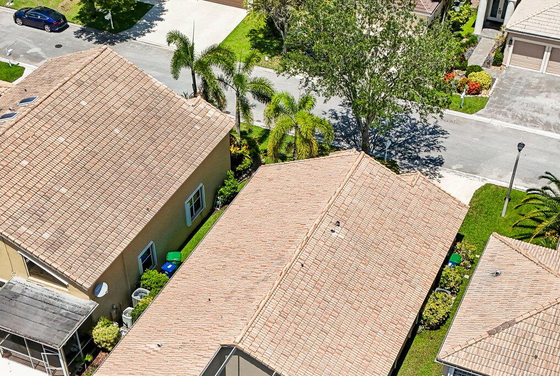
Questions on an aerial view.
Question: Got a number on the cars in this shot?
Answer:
one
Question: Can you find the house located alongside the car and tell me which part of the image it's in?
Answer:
left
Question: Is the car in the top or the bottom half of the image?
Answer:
top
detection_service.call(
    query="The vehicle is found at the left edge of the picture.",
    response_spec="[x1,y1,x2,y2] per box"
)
[15,4,70,33]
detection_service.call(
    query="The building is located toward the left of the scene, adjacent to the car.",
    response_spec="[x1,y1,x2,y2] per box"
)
[0,32,243,321]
